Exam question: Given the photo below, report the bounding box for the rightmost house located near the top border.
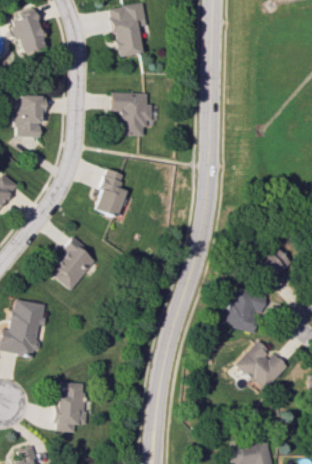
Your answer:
[108,2,148,58]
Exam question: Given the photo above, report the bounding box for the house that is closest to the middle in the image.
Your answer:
[97,170,126,216]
